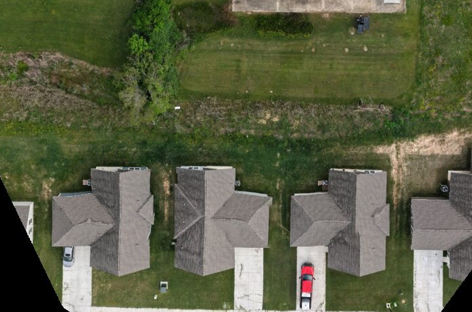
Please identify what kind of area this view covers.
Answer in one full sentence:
The picture captures a residential area.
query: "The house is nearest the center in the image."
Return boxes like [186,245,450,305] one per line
[174,165,271,274]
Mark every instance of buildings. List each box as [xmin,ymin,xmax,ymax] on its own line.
[52,165,152,274]
[412,147,472,285]
[14,198,32,241]
[174,165,271,274]
[290,167,389,274]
